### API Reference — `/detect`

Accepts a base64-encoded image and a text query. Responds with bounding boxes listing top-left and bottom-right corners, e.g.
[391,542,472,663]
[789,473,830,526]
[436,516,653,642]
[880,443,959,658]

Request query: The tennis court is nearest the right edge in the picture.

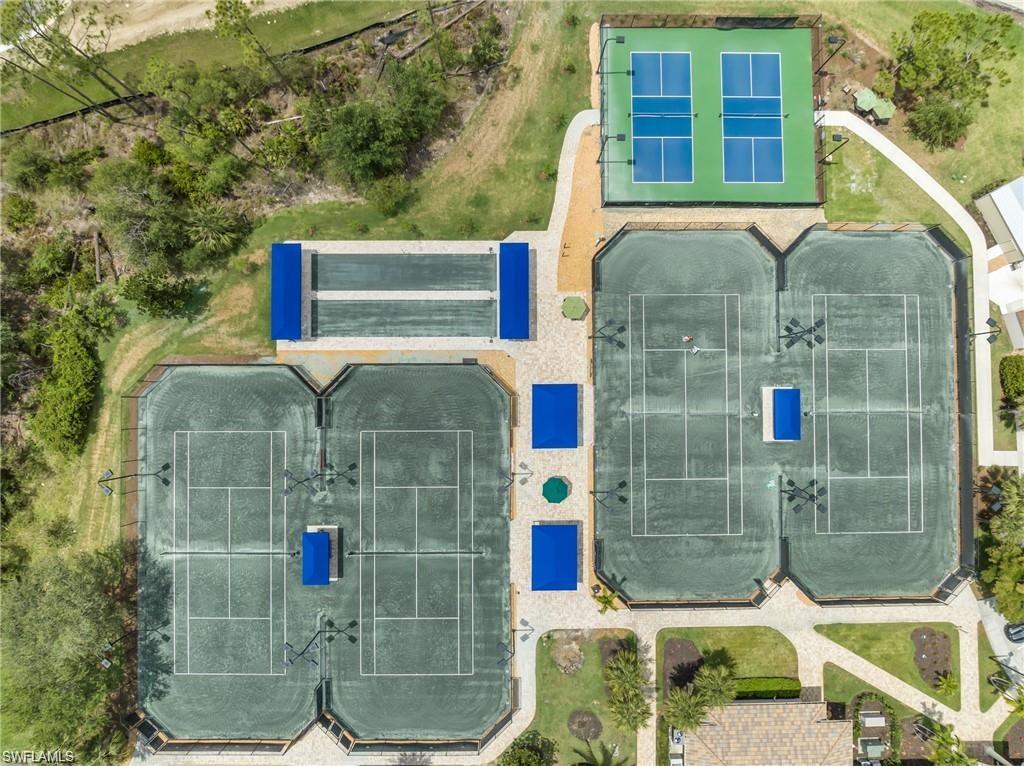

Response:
[777,231,959,599]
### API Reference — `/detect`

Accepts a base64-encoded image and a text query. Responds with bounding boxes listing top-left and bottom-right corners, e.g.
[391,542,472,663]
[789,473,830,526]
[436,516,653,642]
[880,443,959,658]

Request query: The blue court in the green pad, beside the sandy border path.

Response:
[600,27,709,205]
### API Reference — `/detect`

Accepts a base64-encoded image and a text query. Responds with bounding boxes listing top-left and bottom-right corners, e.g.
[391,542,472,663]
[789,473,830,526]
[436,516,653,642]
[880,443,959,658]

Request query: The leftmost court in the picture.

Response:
[138,366,322,739]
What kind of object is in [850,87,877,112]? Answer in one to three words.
umbrella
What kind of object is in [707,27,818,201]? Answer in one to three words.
sports court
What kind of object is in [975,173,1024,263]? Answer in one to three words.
building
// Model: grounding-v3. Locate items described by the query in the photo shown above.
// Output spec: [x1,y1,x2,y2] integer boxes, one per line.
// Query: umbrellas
[543,476,568,502]
[561,295,587,320]
[870,97,896,121]
[850,87,877,112]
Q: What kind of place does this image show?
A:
sports ground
